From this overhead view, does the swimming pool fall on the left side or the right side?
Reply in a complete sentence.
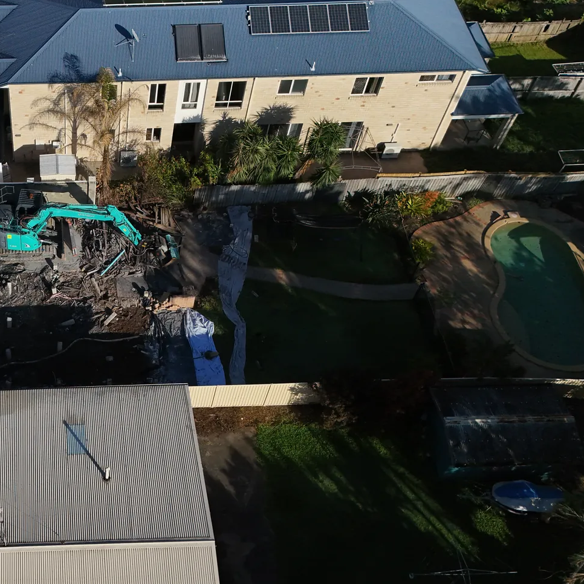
You can find the swimming pool on the right side of the picture.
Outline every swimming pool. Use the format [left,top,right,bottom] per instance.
[485,206,584,371]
